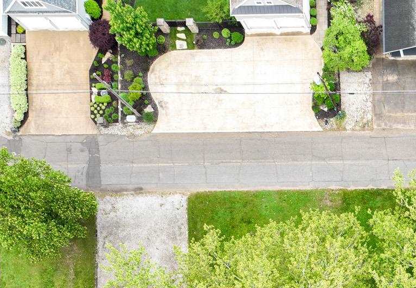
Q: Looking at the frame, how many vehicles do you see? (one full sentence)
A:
Not a single vehicle can be seen.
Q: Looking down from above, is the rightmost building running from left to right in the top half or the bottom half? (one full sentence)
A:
The top half of the photo is where the rightmost building running from left to right is.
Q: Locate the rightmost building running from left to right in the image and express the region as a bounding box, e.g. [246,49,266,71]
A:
[233,0,310,36]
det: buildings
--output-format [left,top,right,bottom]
[233,0,310,36]
[3,0,88,32]
[383,0,416,60]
